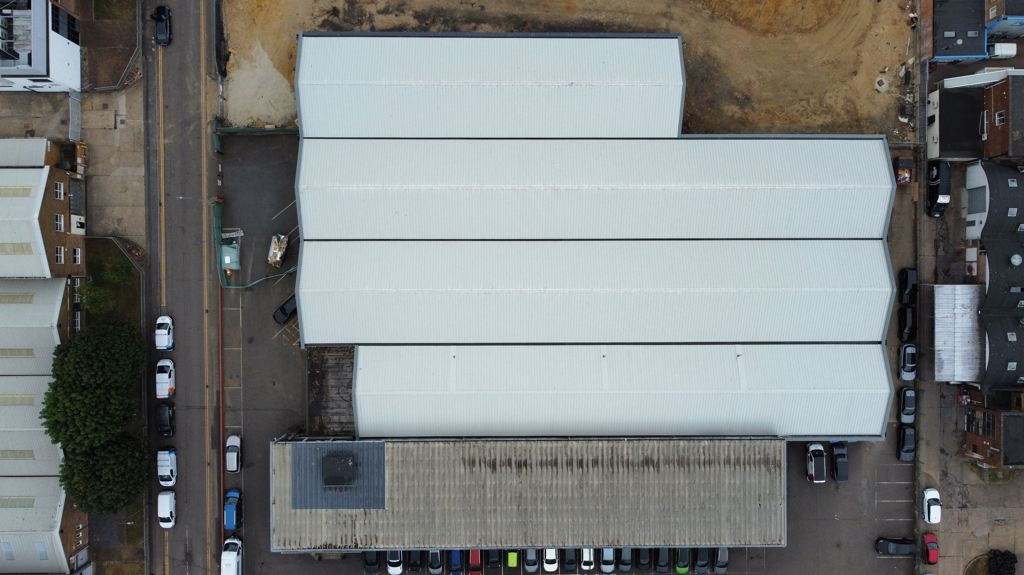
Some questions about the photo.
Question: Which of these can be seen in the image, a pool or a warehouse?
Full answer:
It is a warehouse that can be seen here.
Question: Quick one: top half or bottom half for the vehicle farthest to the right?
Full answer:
The vehicle farthest to the right sits in the top half of the picture.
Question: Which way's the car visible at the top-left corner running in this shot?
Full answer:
In this picture, the car visible at the top-left corner is oriented from top to bottom.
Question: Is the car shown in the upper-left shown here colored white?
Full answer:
No, from above the car shown in the upper-left looks black.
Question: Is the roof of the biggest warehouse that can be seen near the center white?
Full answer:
Yes, the roof of the biggest warehouse that can be seen near the center is white.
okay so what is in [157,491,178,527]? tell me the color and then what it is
white vehicle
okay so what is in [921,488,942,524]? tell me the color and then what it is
white car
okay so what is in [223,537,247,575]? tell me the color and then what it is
white vehicle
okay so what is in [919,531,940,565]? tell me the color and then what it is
red car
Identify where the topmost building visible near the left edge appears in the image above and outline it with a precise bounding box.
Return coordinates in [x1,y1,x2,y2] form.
[0,0,81,94]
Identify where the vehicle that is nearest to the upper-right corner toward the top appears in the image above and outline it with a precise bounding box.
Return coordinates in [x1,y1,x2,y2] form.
[980,40,1023,60]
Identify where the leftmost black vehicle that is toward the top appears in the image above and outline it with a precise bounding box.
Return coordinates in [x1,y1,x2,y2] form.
[155,6,176,46]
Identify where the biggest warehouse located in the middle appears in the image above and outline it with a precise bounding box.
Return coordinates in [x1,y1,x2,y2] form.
[295,31,896,440]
